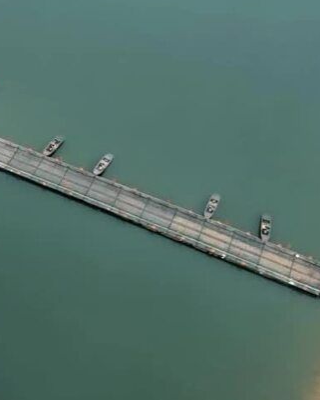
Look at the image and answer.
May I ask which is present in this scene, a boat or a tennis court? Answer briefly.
boat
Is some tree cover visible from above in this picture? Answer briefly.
No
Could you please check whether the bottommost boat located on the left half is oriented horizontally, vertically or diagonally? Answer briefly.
diagonally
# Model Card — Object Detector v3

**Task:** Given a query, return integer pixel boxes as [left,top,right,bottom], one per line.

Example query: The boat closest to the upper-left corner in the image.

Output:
[45,136,65,156]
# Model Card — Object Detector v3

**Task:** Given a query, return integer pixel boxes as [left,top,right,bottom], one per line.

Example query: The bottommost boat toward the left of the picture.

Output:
[93,154,114,178]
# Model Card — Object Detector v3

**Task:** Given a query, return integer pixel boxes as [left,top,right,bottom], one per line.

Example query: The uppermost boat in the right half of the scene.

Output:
[204,193,221,219]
